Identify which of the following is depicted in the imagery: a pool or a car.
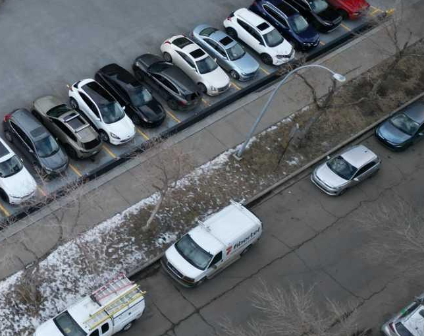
car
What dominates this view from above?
paved ground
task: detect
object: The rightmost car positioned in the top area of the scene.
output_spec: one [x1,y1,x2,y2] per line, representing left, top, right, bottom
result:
[374,100,424,153]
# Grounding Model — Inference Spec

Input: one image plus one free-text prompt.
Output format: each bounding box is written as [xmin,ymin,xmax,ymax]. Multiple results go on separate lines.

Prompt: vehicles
[374,100,424,153]
[289,0,341,33]
[192,22,262,80]
[100,63,171,128]
[130,52,206,111]
[36,270,151,336]
[221,5,293,66]
[160,34,232,94]
[162,201,269,290]
[34,96,107,162]
[0,137,34,203]
[68,80,138,145]
[310,144,381,200]
[249,0,320,50]
[0,108,70,180]
[326,0,369,20]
